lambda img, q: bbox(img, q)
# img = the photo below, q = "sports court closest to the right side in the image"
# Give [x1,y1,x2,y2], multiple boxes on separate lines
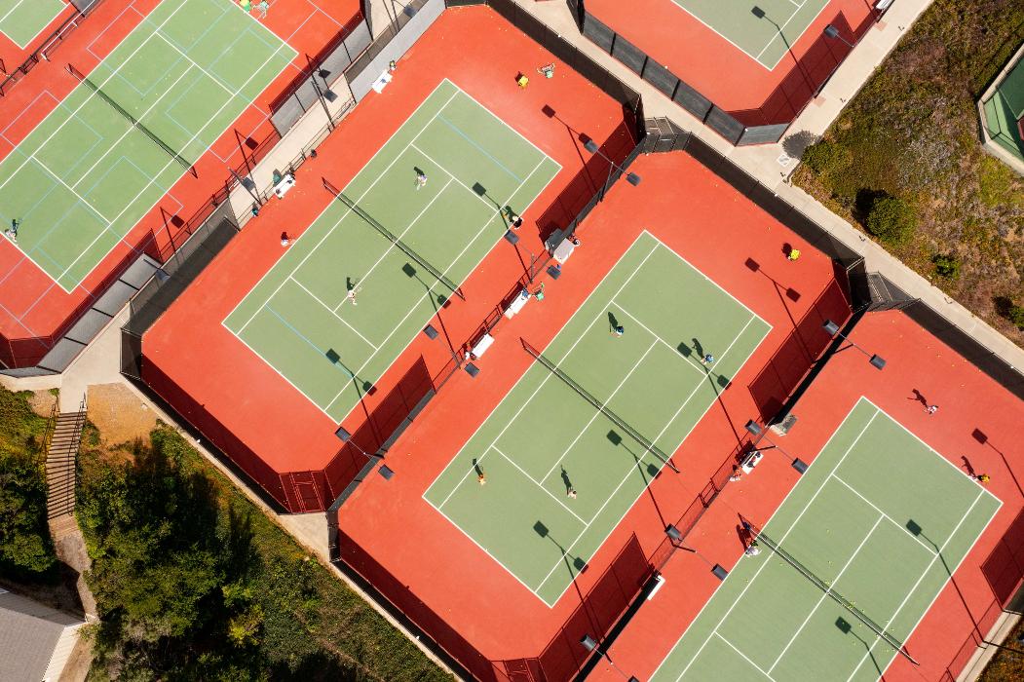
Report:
[980,44,1024,172]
